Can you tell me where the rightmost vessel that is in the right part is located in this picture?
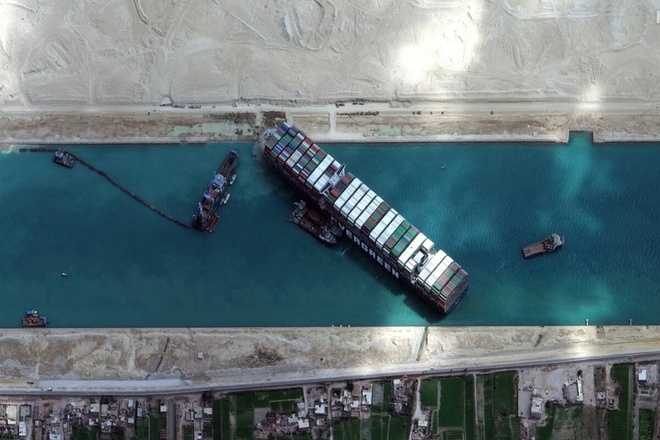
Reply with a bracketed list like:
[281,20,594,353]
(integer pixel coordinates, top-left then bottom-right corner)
[521,233,563,258]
